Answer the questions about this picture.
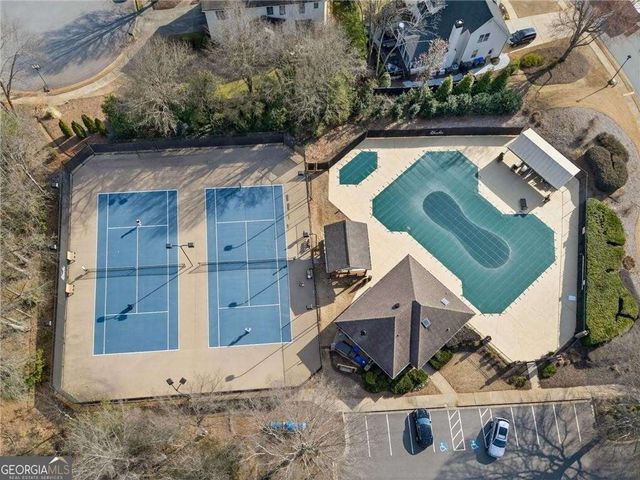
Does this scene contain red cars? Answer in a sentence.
No, the photo shows no red car.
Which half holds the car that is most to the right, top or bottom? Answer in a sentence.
The top half of the photo is where the car that is most to the right is.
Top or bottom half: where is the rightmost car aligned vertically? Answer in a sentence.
You can find the rightmost car aligned vertically in the bottom half.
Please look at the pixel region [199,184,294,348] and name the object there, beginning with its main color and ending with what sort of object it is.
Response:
blue tennis court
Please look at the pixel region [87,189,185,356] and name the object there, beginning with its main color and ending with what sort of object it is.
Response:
blue tennis court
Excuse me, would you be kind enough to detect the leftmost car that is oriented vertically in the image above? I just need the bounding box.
[416,411,436,451]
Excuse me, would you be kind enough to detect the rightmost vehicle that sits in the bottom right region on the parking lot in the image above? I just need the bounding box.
[488,422,509,462]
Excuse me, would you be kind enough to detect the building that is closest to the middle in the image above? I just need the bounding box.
[324,220,371,279]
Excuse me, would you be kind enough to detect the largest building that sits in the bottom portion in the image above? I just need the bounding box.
[335,254,475,379]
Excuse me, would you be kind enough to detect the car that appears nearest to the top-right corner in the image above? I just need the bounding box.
[509,28,539,49]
